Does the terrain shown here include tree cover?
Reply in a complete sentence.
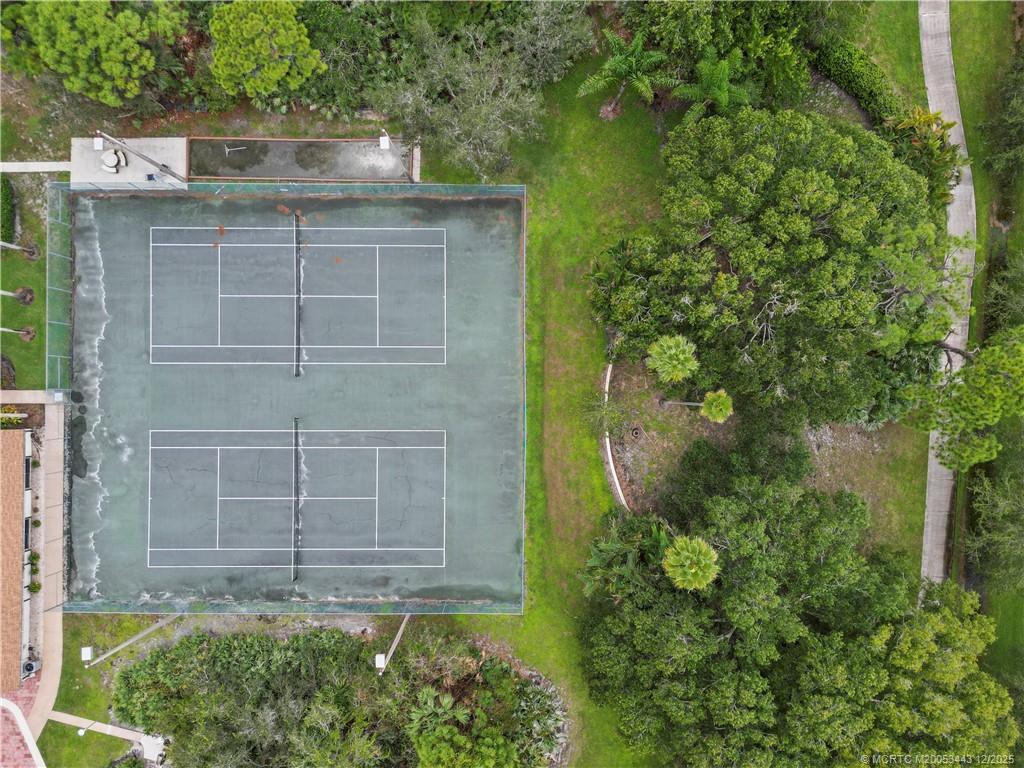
Yes, the picture does contain tree cover.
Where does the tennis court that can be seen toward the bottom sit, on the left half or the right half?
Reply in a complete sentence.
The tennis court that can be seen toward the bottom appears in the left half of the scene.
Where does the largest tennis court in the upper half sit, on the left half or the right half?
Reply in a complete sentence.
The largest tennis court in the upper half is on the left side of the image.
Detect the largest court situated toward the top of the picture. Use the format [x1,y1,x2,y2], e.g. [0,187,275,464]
[150,228,445,364]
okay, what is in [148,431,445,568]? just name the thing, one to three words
tennis court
